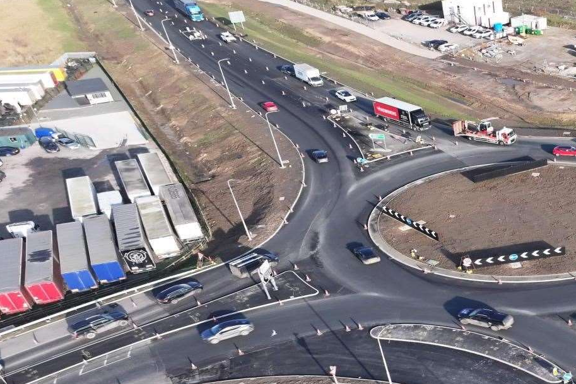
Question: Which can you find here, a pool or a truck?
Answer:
truck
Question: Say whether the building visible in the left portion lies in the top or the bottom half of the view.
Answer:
top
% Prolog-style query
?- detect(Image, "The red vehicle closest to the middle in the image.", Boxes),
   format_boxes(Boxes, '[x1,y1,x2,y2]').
[259,97,277,110]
